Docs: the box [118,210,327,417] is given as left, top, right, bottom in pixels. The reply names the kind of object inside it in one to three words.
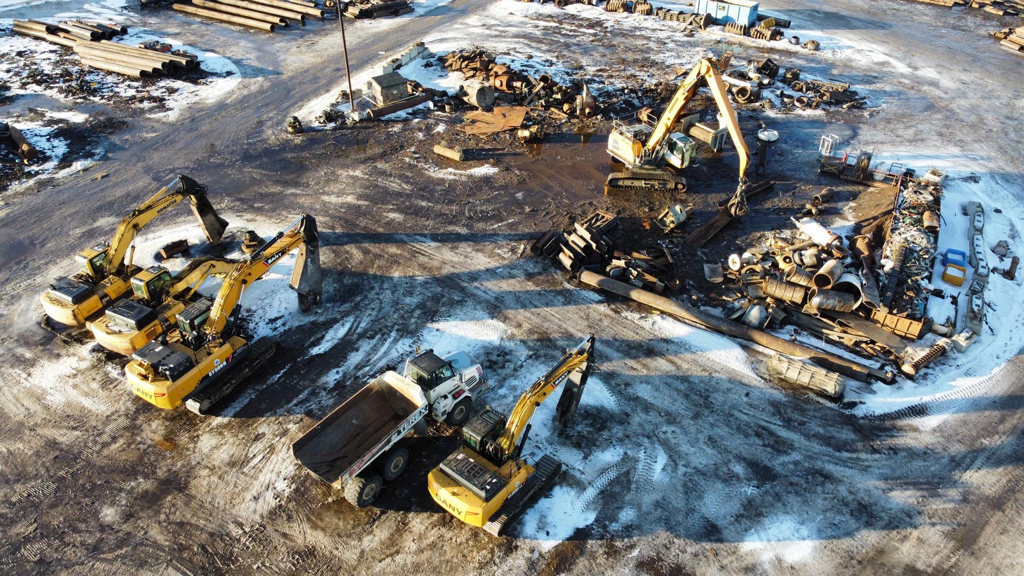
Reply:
work vehicle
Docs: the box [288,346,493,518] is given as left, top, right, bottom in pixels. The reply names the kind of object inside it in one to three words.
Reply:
truck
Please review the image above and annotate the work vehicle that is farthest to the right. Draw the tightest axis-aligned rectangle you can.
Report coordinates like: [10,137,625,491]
[426,327,608,542]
